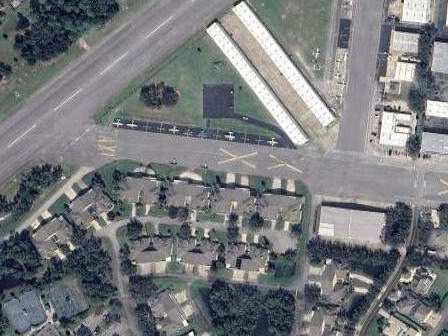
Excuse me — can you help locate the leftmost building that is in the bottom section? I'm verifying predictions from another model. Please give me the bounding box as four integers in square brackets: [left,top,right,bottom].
[32,217,72,256]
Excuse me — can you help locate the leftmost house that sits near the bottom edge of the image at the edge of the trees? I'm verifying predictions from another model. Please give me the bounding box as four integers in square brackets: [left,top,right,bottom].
[151,288,192,331]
